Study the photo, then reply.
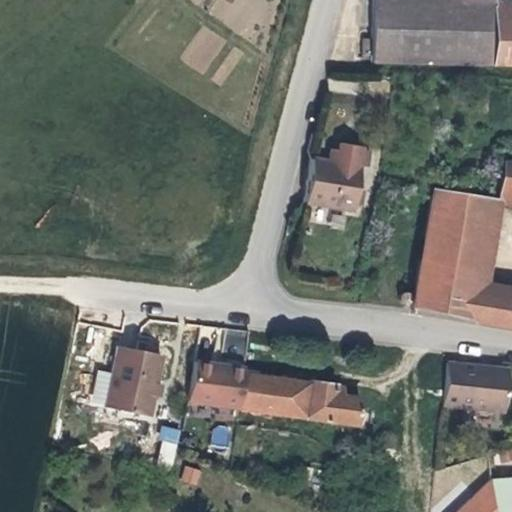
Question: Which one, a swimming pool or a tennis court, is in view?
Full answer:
I can see a swimming pool in this picture.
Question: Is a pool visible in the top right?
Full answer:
No, no pool is visible in the top right.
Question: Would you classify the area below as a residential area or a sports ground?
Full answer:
This looks like a residential area.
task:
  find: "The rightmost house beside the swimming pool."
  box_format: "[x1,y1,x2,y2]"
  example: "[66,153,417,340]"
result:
[238,368,368,429]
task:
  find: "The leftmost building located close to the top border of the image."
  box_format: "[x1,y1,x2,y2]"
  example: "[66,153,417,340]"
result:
[368,0,500,68]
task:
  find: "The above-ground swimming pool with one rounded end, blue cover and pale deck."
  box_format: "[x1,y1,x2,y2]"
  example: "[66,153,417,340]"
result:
[208,425,232,459]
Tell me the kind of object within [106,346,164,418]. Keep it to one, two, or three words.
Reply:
house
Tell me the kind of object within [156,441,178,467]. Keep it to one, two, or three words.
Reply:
shed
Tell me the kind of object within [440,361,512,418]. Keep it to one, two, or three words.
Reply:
house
